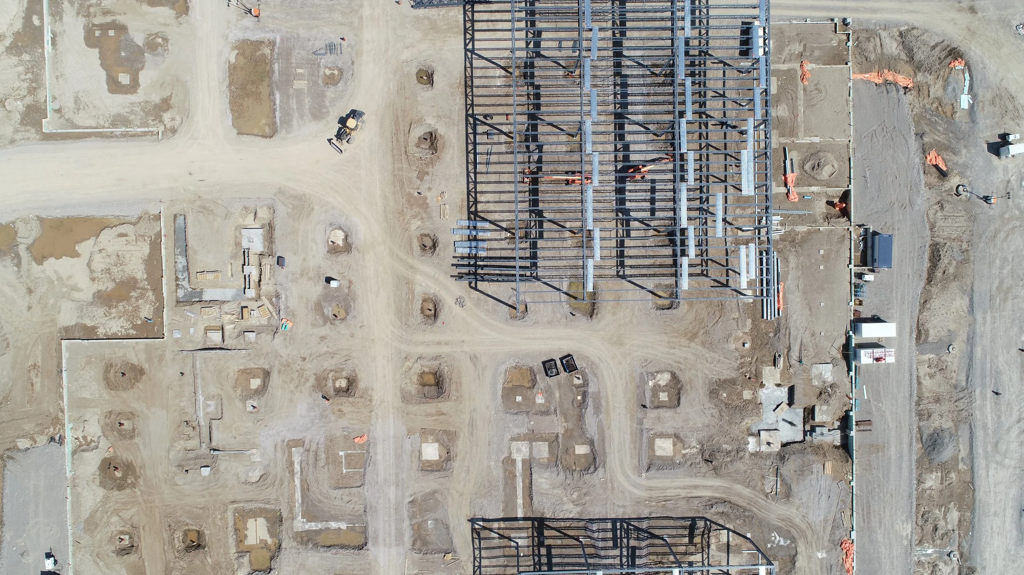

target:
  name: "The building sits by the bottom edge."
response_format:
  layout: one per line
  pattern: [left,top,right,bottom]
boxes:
[520,539,776,575]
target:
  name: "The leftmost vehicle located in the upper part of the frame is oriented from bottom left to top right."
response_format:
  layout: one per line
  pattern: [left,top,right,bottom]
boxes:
[331,109,365,152]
